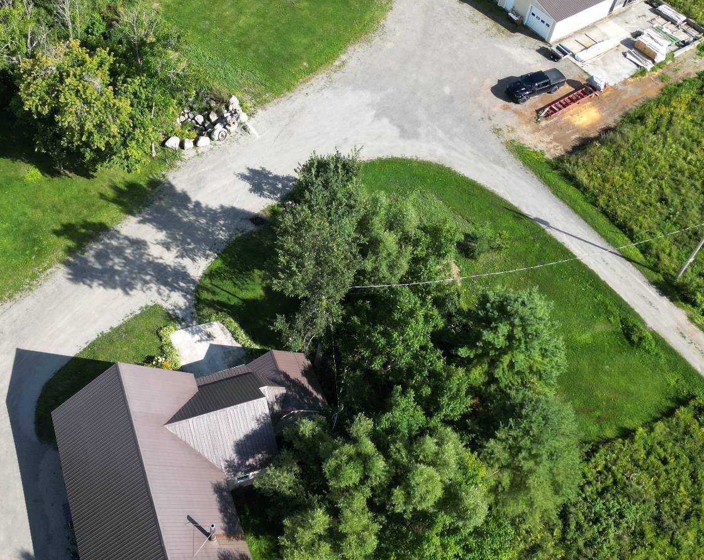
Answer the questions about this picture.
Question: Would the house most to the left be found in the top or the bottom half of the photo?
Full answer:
The bottom half of the photo is where the house most to the left is.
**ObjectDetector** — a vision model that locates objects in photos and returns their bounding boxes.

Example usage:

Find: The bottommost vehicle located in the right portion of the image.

[505,57,574,101]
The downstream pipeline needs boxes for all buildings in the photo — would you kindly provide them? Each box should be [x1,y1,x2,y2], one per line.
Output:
[53,349,329,560]
[494,0,636,40]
